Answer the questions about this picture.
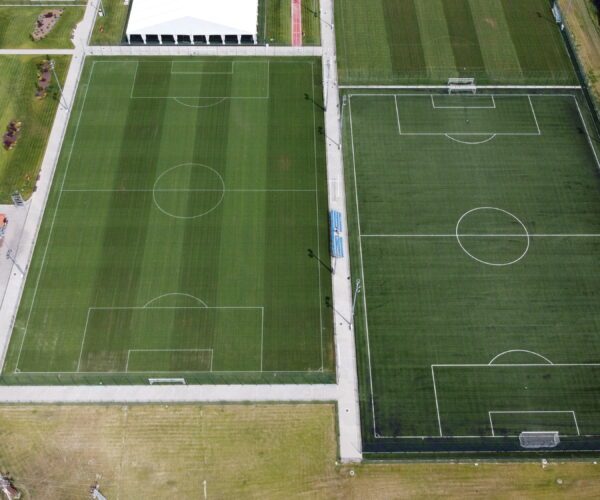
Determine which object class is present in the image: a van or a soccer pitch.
soccer pitch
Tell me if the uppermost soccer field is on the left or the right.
right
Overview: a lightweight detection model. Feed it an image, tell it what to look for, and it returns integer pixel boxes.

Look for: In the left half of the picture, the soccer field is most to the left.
[0,55,336,386]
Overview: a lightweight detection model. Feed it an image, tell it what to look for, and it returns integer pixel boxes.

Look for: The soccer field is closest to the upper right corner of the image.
[333,0,580,86]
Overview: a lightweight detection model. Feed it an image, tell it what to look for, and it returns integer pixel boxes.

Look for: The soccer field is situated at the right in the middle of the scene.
[338,87,600,452]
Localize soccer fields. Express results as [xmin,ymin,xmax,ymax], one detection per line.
[0,55,336,386]
[338,87,600,452]
[333,0,580,86]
